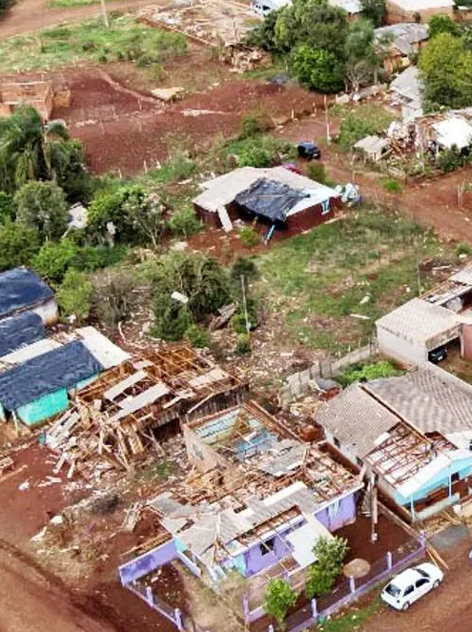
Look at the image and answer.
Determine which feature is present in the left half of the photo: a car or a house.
house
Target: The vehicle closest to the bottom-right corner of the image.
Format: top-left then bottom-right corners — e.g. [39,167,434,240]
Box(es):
[377,560,447,610]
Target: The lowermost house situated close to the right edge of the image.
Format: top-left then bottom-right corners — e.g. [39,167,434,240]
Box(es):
[311,371,472,529]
